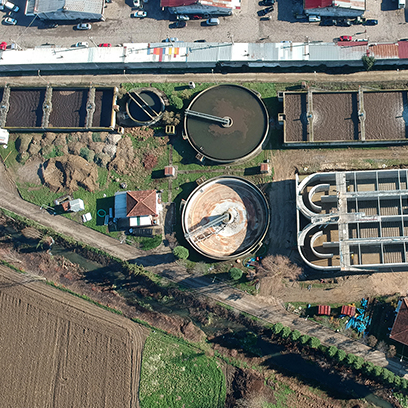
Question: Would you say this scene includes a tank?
Yes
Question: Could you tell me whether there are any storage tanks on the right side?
Yes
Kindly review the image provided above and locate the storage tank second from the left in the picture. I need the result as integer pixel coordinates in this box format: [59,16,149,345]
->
[125,89,169,128]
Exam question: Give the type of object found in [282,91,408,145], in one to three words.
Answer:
storage tank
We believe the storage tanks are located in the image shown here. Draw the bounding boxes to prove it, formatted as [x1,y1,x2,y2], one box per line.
[181,85,271,166]
[282,91,408,145]
[0,88,122,132]
[125,89,169,128]
[178,175,272,264]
